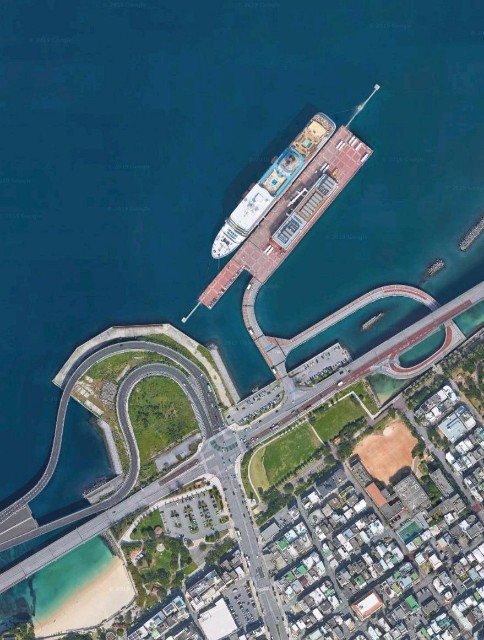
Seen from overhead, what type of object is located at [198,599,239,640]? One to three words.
building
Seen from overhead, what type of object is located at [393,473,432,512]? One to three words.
building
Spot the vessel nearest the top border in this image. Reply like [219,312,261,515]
[214,109,336,259]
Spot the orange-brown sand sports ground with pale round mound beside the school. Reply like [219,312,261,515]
[356,420,418,486]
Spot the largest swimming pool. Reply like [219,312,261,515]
[396,519,425,544]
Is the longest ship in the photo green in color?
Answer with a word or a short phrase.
No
